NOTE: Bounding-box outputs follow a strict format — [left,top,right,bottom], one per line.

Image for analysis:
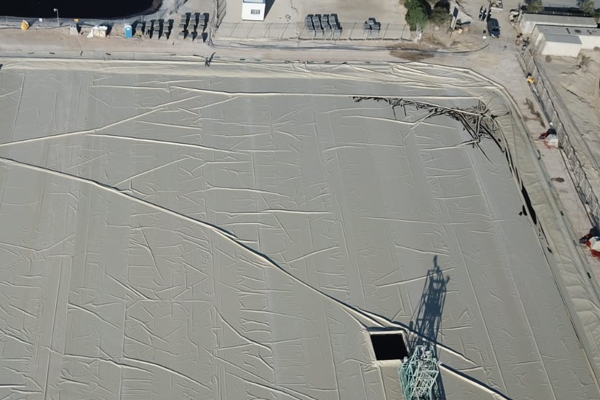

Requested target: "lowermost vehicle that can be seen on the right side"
[486,16,504,36]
